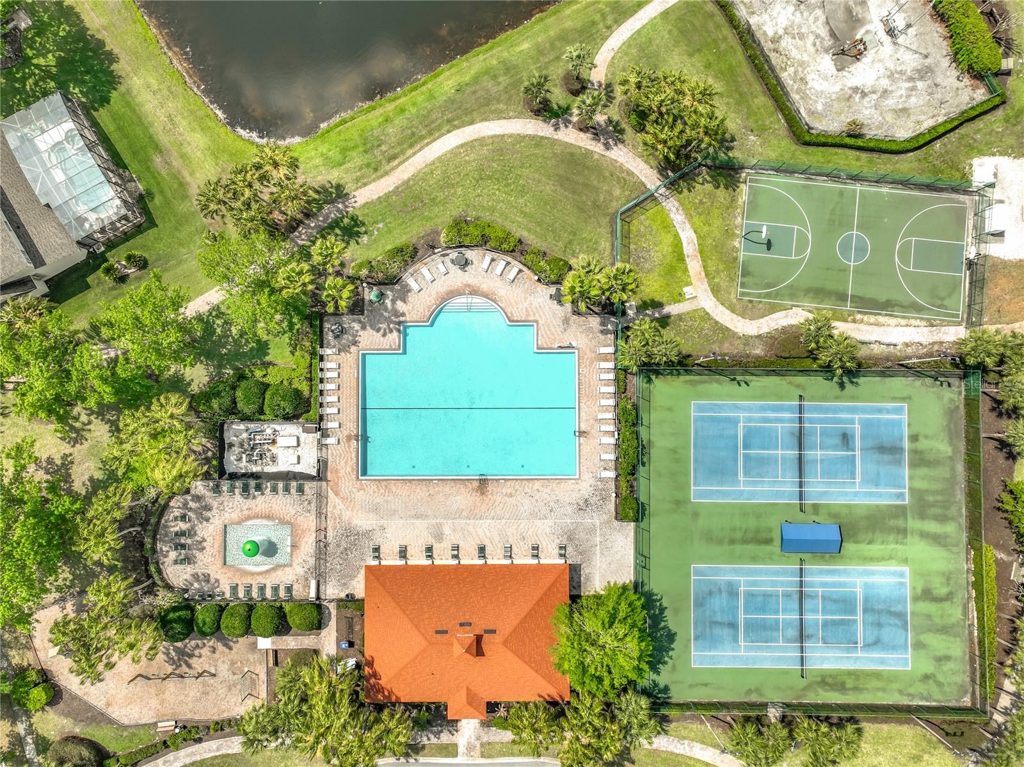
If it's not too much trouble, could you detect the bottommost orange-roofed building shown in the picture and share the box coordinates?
[364,559,570,719]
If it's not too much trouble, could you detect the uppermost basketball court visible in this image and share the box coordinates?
[733,173,974,328]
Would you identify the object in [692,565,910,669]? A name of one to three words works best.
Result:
tennis court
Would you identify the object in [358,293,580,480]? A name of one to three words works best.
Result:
swimming pool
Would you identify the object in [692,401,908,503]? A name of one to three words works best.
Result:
tennis court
